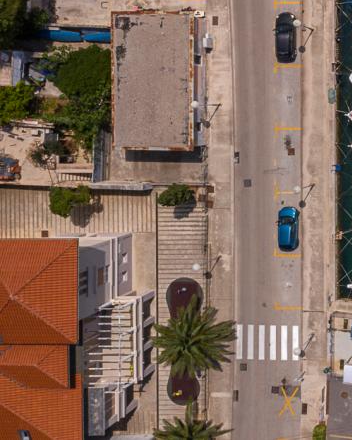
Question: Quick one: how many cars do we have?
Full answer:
Looking from above, you can make out 2 cars.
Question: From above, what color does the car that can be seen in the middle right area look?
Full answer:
The color of the car that can be seen in the middle right area is blue.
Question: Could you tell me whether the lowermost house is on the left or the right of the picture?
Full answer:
The lowermost house appears in the left half of the scene.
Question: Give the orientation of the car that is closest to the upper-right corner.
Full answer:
What the image shows is the car that is closest to the upper-right corner lying up and down.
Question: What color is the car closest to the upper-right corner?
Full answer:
In this view, the car closest to the upper-right corner is black.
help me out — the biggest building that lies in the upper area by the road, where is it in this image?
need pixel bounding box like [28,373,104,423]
[112,12,211,151]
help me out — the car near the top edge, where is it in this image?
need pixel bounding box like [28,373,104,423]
[272,13,297,63]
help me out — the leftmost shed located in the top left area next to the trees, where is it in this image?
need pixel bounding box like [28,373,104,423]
[12,51,41,86]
